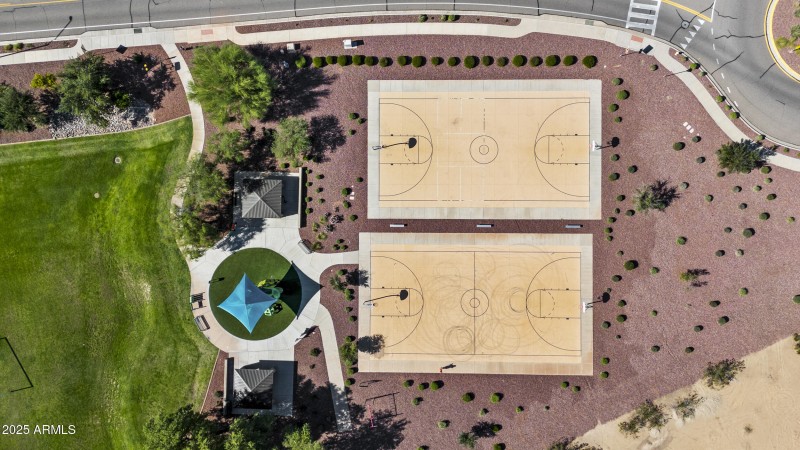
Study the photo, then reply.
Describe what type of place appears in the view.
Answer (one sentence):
What you see here is a sports ground.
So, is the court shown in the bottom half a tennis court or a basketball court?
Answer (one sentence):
What you see as the court shown in the bottom half is a basketball court.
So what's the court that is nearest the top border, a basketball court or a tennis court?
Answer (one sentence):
Looking closely, the court that is nearest the top border is a basketball court.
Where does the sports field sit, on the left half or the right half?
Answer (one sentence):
The sports field appears in the left half of the scene.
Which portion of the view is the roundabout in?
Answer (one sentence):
Look in the top right portion of the view to spot the roundabout.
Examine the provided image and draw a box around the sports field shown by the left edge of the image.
[0,113,220,450]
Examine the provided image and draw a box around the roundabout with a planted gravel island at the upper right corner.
[713,0,800,137]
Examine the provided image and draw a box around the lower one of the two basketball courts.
[358,232,593,376]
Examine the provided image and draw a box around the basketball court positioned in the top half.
[367,80,602,220]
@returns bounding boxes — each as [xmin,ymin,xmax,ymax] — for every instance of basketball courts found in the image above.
[367,80,602,220]
[358,232,593,376]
